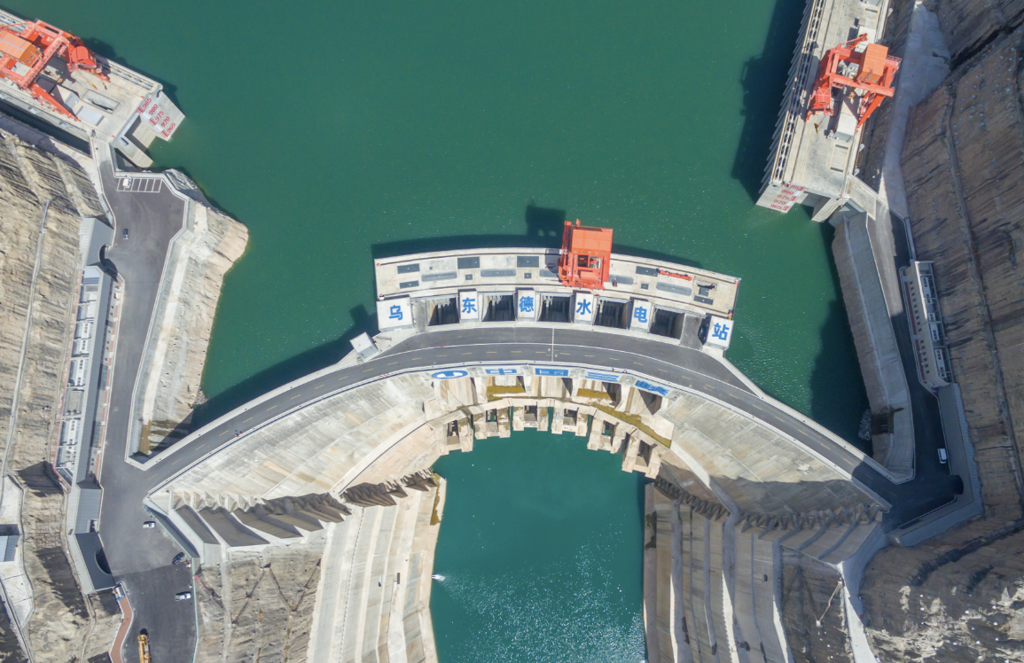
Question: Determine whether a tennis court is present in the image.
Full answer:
No, there is no tennis court in the image.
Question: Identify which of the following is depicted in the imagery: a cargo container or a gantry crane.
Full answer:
I can see a gantry crane in this picture.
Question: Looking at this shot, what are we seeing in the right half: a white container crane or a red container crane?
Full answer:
Looking in the right half, you will find a red container crane.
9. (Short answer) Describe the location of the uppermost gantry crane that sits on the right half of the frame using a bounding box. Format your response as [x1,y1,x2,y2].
[806,27,902,131]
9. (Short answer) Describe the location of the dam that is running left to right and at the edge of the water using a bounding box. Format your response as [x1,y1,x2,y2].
[140,247,900,579]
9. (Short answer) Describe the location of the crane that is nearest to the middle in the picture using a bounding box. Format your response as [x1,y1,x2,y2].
[552,223,615,290]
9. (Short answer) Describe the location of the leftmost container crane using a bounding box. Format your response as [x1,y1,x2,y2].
[0,15,112,119]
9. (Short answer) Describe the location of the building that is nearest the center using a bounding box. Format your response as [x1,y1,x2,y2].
[349,331,376,359]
